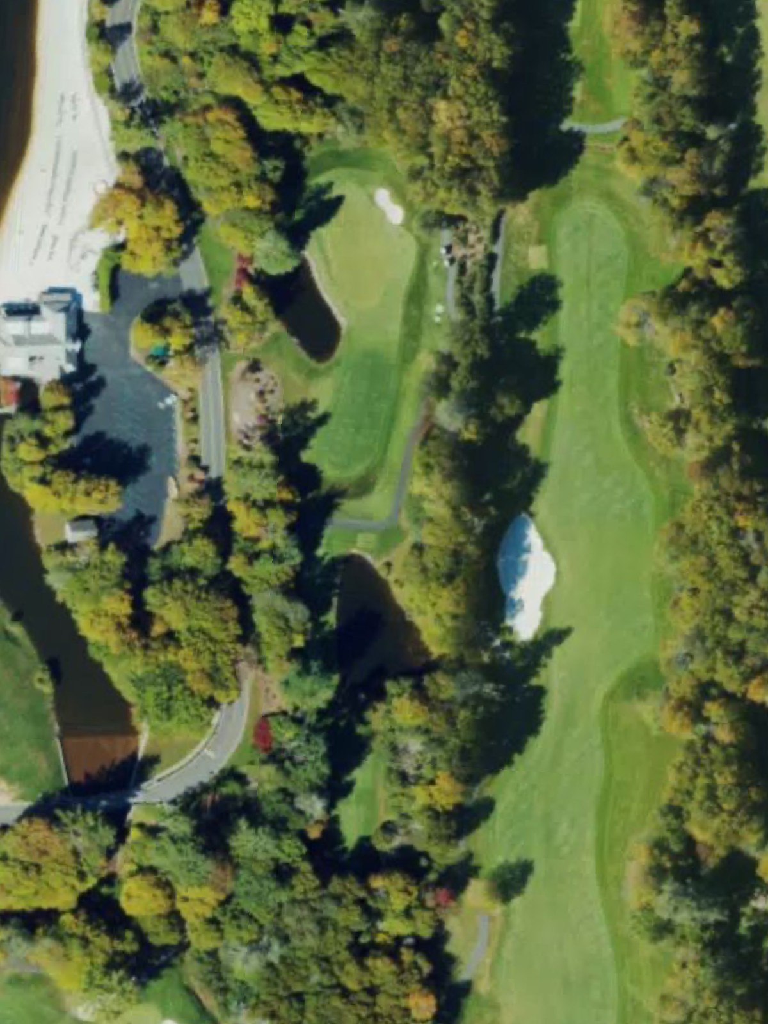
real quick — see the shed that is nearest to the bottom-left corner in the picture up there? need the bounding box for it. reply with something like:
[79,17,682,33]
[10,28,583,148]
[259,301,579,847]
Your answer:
[65,519,97,543]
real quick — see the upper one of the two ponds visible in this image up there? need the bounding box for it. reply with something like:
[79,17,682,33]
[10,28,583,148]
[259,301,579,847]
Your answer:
[268,255,342,360]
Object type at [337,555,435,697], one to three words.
pond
